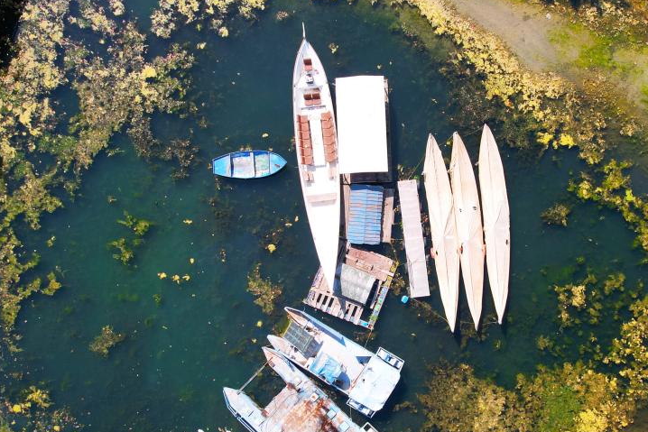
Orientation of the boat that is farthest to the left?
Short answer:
from left to right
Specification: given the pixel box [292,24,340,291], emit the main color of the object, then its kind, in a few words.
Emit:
white boat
